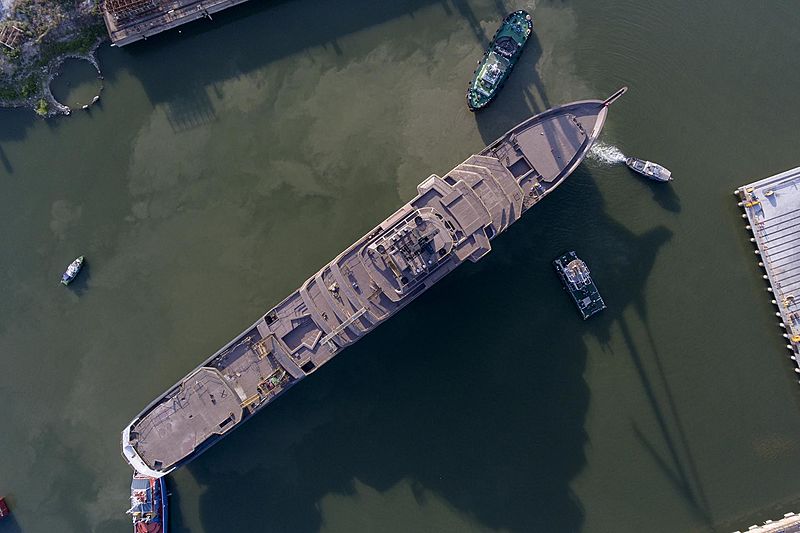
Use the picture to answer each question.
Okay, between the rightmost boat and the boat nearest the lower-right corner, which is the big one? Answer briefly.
the boat nearest the lower-right corner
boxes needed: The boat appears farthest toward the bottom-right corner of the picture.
[552,249,607,319]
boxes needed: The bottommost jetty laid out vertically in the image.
[732,166,800,385]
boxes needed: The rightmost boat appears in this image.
[623,155,673,181]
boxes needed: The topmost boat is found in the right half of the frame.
[467,11,530,109]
